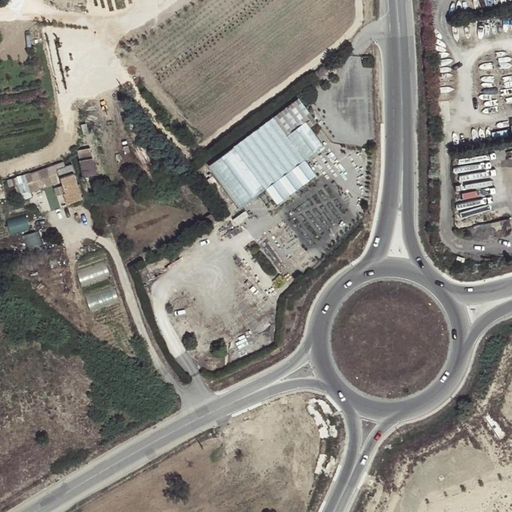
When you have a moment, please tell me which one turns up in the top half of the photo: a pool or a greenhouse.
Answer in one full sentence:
Looking in the top half of the photo, you will find a greenhouse.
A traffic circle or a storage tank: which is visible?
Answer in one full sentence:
There is a traffic circle in the scene.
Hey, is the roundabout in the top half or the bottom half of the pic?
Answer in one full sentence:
You can find the roundabout in the bottom half.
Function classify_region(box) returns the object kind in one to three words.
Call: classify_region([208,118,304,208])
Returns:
greenhouse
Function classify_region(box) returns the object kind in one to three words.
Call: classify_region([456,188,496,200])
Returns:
vehicle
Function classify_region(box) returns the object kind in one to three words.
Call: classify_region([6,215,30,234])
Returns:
shed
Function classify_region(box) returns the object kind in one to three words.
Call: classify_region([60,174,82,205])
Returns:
house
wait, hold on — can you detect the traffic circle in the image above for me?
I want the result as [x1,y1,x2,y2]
[308,257,473,422]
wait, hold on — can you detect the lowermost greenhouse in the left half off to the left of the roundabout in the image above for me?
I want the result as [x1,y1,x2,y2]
[86,285,118,310]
